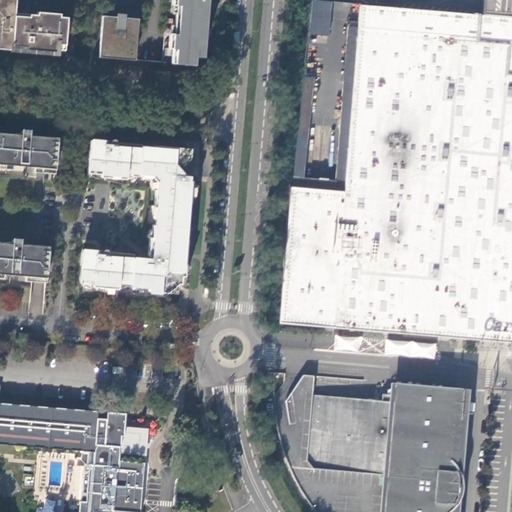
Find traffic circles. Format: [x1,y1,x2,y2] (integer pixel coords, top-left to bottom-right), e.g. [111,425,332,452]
[196,309,262,386]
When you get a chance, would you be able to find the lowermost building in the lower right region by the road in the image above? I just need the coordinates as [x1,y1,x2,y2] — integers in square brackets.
[274,374,476,512]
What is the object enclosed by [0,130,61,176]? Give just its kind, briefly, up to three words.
building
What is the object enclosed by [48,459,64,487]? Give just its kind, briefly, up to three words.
swimming pool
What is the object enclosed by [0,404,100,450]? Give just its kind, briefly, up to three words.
building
